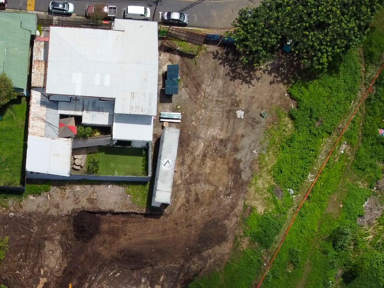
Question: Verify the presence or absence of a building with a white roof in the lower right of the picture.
No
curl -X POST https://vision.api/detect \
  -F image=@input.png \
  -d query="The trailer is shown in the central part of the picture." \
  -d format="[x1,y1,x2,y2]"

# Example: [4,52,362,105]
[152,128,179,206]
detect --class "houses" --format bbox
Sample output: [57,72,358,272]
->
[0,12,37,97]
[26,19,158,176]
